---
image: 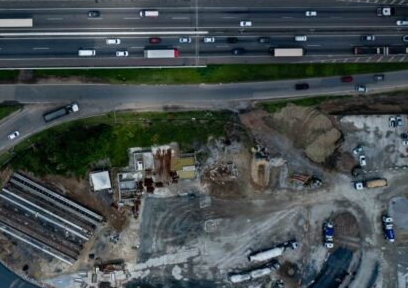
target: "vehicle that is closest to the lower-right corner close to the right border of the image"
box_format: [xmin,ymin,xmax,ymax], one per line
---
[380,214,396,244]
